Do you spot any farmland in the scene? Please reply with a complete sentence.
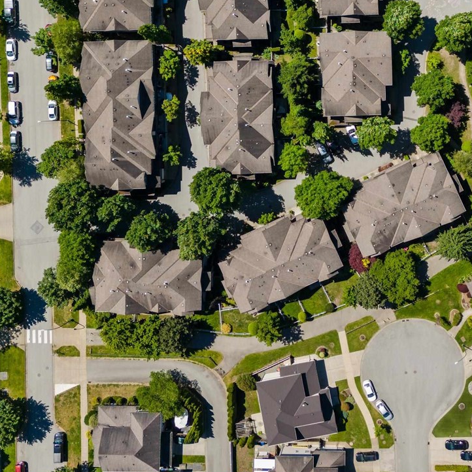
No, farmland can't be seen anywhere here.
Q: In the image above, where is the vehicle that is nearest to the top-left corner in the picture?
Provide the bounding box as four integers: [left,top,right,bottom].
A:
[4,0,17,26]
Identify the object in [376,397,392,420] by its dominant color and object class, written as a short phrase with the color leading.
white car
